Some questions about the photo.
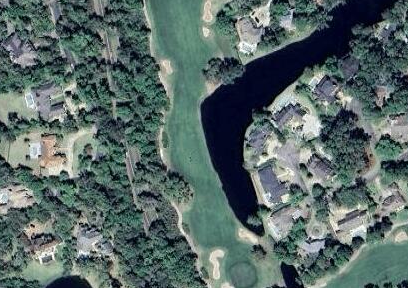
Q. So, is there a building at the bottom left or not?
Yes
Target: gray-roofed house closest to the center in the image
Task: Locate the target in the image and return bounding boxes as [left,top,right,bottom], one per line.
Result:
[250,124,274,148]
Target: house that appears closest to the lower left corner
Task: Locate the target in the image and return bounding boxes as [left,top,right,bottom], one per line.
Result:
[20,229,60,252]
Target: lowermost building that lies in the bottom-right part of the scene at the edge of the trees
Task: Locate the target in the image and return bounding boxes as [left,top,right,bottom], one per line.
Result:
[299,234,328,255]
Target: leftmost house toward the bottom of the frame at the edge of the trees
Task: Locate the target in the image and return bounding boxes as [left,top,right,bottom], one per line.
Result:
[2,184,33,205]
